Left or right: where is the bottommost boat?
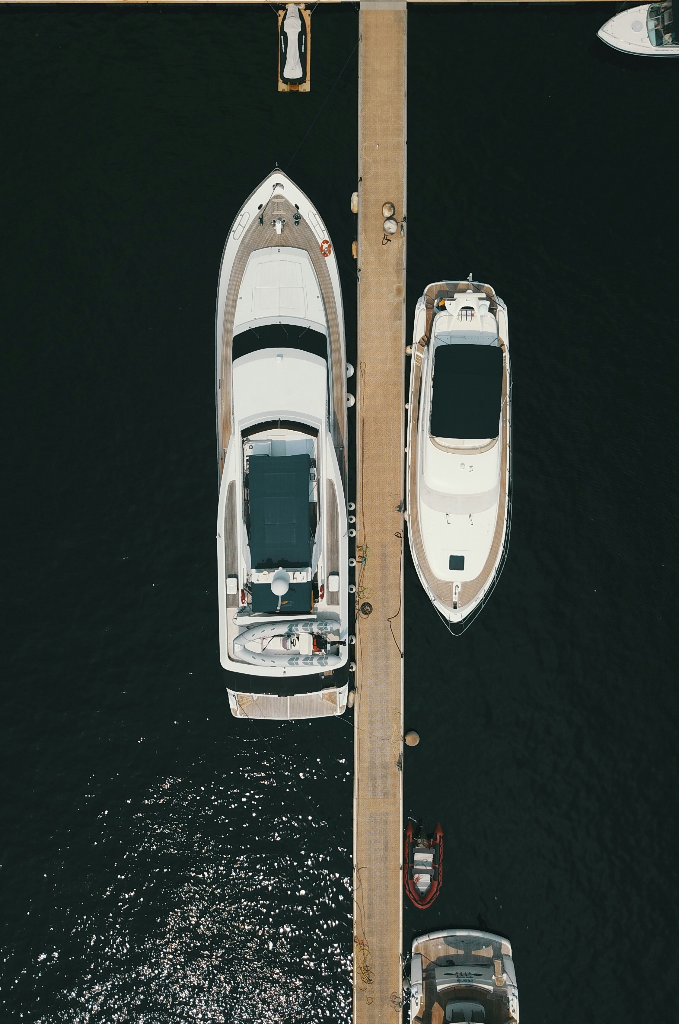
right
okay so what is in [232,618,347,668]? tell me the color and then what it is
white boat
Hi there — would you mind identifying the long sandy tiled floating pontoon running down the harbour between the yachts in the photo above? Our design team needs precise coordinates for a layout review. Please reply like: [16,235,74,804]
[353,11,408,1024]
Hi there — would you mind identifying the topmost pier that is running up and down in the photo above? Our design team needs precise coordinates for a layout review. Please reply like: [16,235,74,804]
[277,10,311,93]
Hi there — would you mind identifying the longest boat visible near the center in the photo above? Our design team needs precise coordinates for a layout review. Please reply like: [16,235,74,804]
[215,162,350,719]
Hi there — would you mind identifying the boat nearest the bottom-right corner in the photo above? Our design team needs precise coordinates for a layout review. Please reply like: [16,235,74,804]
[408,927,520,1024]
